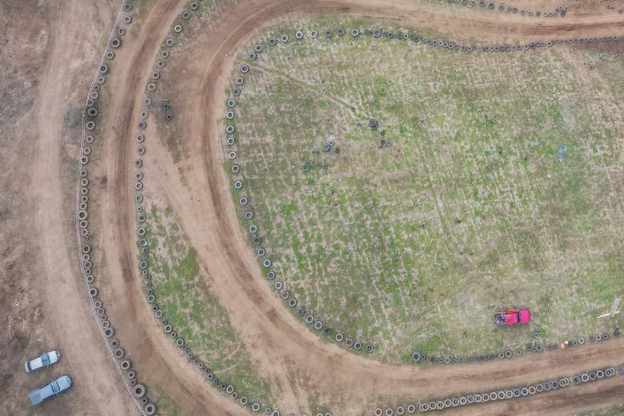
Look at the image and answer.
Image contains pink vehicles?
Yes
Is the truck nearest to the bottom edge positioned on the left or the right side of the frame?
left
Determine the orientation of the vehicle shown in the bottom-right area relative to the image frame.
from left to right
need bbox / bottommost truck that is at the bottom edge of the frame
[26,371,78,407]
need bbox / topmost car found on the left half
[24,346,66,373]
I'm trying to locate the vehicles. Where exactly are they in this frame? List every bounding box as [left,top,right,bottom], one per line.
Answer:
[24,346,66,373]
[26,371,78,407]
[493,306,532,326]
